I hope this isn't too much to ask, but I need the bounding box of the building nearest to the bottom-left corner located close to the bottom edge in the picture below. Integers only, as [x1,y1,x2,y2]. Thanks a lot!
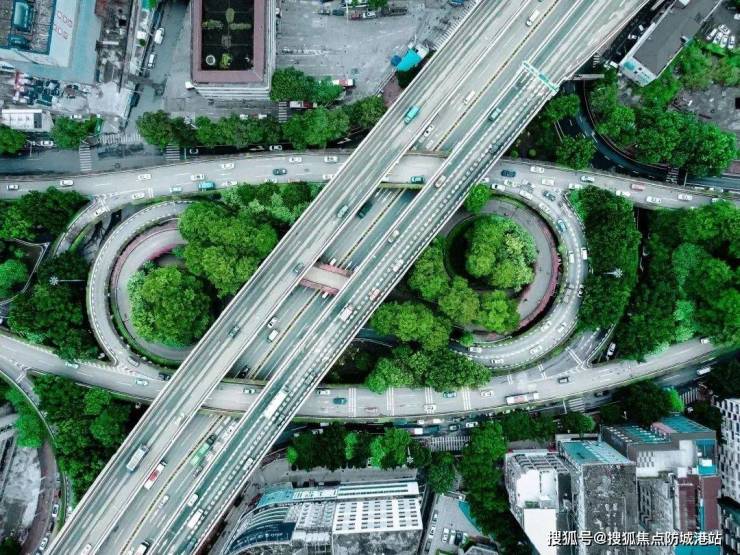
[226,507,306,555]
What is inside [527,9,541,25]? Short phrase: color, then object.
white vehicle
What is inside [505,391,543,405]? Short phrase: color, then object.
white vehicle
